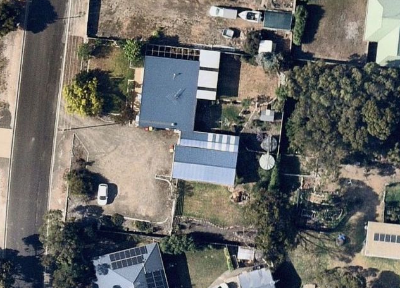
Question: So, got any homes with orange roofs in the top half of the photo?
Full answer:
No, the scene shows no home with an orange roof in the top half of the photo.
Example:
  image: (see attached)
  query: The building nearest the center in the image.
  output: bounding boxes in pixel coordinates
[171,132,239,187]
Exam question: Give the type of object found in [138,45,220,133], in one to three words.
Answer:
house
